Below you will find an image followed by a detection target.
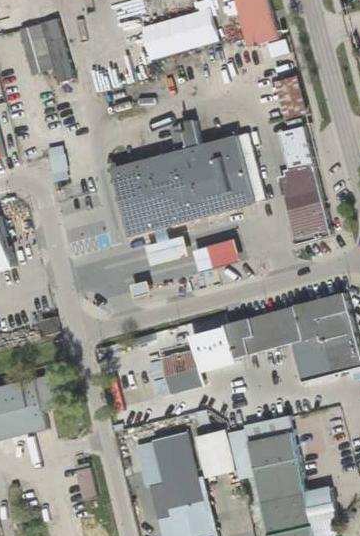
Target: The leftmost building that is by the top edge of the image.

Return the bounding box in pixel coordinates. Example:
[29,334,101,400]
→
[22,18,79,83]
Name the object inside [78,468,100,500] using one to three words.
shed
